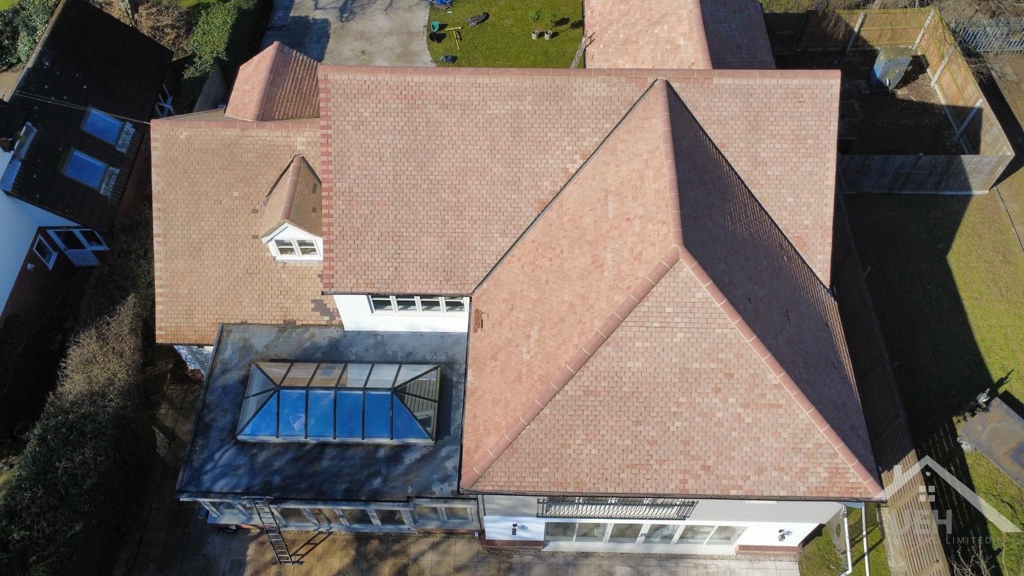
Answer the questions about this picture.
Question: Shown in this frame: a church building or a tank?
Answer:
tank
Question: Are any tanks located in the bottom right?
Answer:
No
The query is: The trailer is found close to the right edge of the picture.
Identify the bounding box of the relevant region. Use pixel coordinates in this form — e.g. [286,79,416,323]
[952,387,1024,493]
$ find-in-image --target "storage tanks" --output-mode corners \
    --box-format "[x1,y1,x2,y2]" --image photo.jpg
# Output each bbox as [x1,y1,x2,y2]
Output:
[865,35,914,91]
